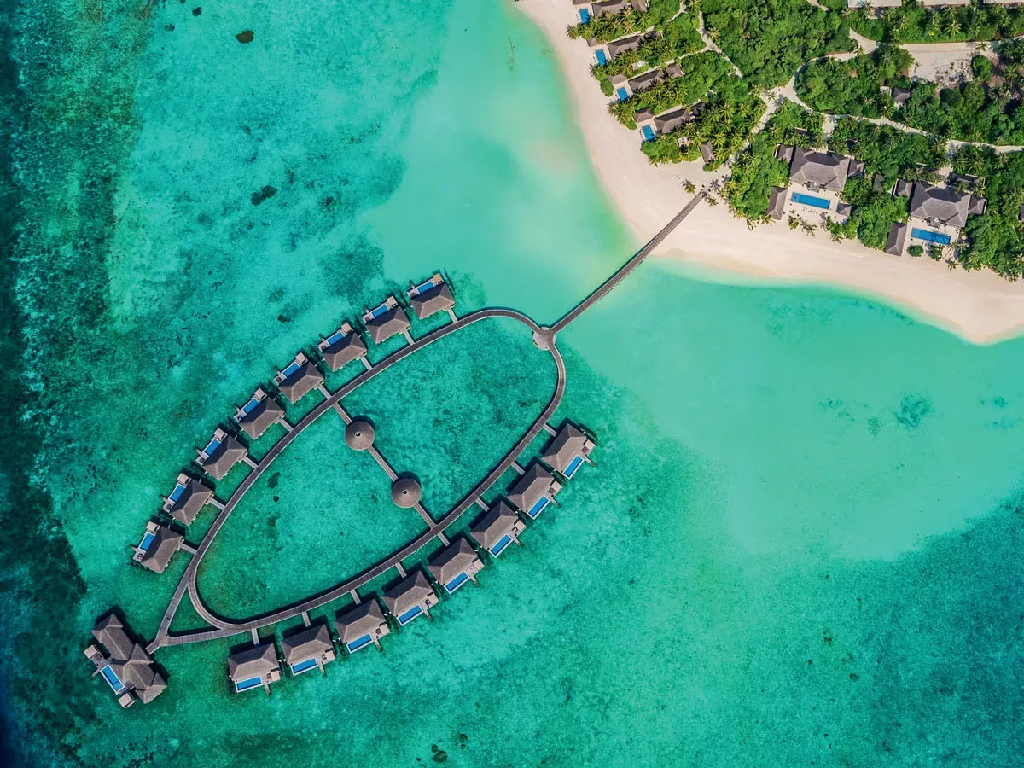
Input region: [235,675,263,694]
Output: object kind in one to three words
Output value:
swimming pool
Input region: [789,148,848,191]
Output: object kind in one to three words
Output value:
house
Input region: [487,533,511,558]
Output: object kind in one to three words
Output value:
swimming pool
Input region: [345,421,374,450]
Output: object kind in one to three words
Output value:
building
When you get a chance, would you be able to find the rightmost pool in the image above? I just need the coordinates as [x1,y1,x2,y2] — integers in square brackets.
[910,225,952,244]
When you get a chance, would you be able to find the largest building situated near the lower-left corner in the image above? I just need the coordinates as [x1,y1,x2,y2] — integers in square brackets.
[84,612,168,707]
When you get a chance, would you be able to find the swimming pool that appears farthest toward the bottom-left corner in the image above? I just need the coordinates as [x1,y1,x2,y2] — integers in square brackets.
[101,664,126,693]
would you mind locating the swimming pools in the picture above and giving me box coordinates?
[525,495,548,520]
[205,438,223,457]
[243,398,263,416]
[290,657,318,677]
[346,632,373,654]
[579,8,590,24]
[235,675,263,694]
[283,362,303,379]
[790,191,831,210]
[328,332,347,347]
[616,86,630,101]
[417,282,436,296]
[487,533,511,558]
[140,531,158,552]
[101,664,126,693]
[443,570,469,595]
[595,49,607,66]
[171,482,189,502]
[371,305,391,320]
[642,124,655,141]
[395,603,422,627]
[910,225,952,244]
[560,454,582,479]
